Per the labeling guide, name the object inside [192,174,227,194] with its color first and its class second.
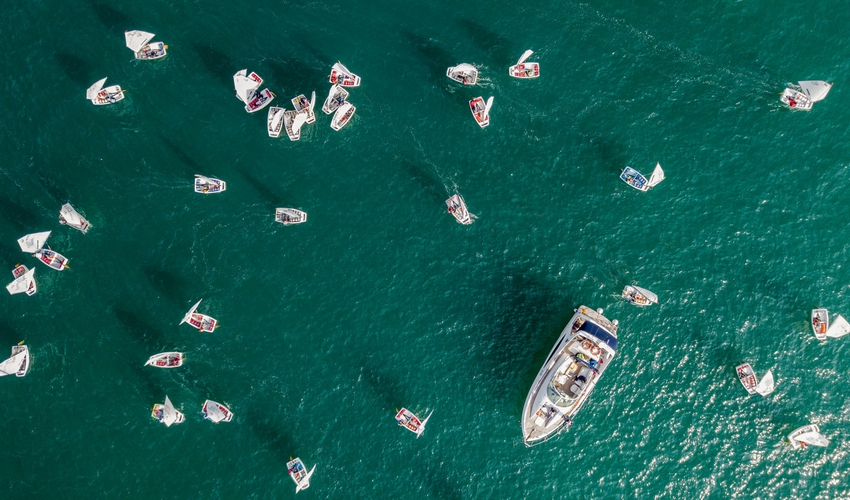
white boat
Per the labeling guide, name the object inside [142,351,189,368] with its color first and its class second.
white boat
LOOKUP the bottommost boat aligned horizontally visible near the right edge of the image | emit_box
[782,424,834,449]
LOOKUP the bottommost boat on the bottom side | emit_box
[286,453,317,495]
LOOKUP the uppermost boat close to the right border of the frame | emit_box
[774,79,832,110]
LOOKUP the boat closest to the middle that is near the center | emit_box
[445,192,471,226]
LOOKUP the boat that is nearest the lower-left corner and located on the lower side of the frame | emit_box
[0,341,31,377]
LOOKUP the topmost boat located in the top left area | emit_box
[125,29,173,60]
